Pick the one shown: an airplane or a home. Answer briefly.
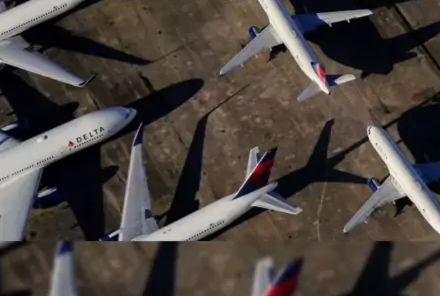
airplane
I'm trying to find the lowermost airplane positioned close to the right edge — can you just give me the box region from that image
[345,127,440,256]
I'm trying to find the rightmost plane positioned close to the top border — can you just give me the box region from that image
[221,0,372,100]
